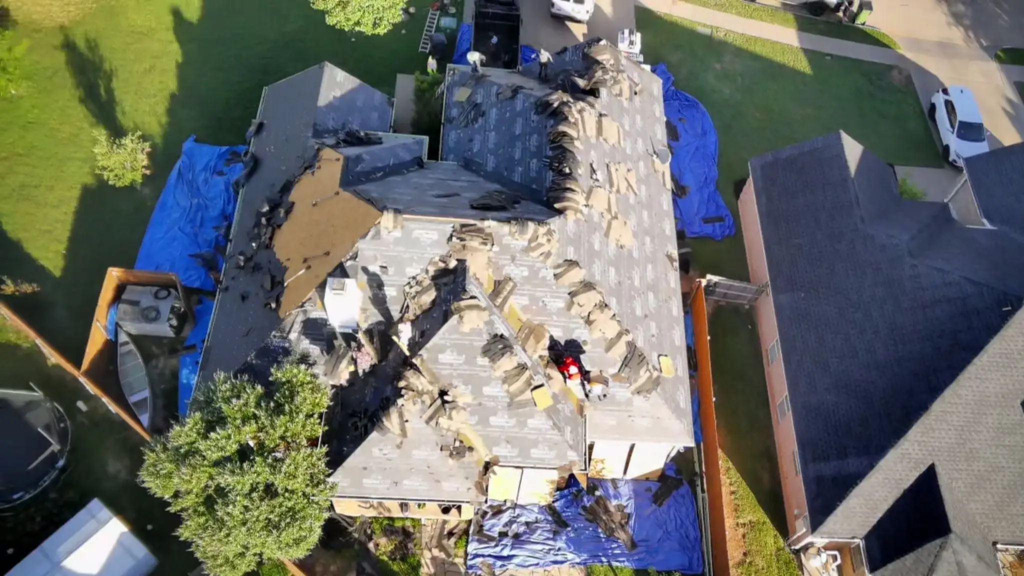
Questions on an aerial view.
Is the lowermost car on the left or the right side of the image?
right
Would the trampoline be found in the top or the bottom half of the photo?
bottom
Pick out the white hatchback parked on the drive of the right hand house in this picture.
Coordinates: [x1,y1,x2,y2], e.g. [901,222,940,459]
[924,77,1002,173]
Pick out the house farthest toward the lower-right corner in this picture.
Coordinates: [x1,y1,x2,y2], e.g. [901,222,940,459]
[741,127,1024,576]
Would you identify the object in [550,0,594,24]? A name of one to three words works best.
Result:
vehicle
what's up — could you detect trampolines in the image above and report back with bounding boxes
[0,374,89,513]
